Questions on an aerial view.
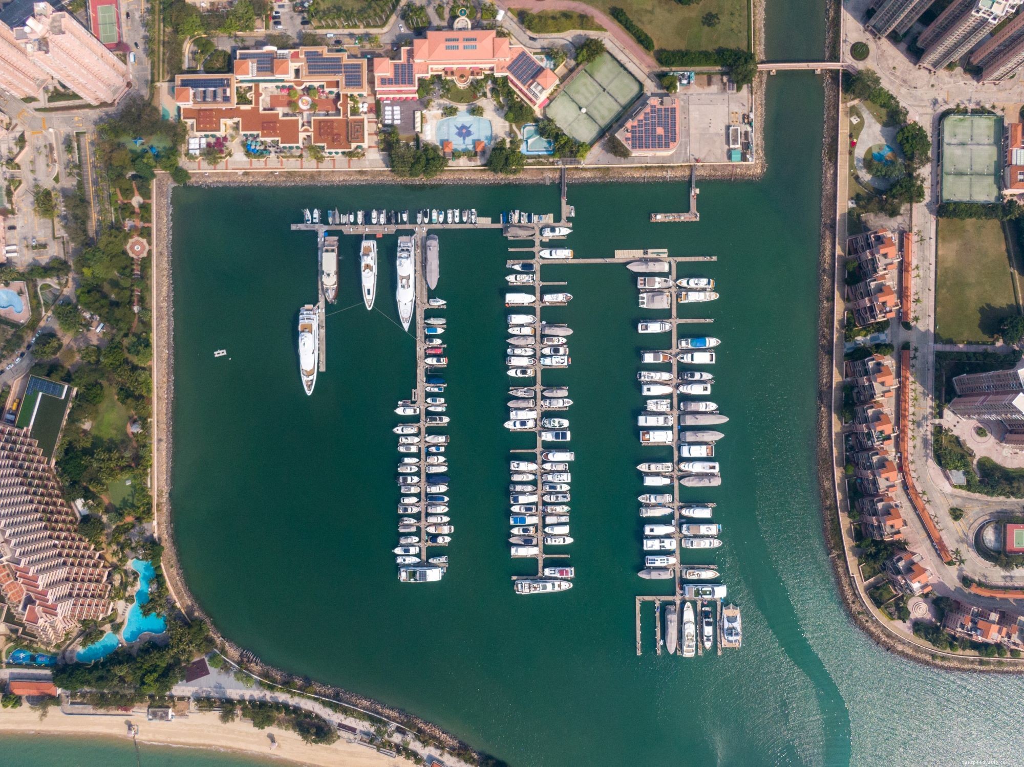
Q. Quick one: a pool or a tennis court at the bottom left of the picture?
pool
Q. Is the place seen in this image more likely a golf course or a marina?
marina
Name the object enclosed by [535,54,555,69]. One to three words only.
swimming pool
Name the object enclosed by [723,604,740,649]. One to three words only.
boat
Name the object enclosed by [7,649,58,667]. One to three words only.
swimming pool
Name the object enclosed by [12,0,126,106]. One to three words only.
building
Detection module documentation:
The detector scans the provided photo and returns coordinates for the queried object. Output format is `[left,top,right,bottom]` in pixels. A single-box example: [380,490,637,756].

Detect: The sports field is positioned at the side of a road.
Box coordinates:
[935,215,1017,342]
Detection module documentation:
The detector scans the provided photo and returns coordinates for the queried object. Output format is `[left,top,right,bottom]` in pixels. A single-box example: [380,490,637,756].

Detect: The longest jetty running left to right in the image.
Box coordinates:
[291,197,572,234]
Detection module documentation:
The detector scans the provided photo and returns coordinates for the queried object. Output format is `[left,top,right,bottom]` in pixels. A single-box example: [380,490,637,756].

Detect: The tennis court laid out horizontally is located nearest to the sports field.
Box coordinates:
[942,174,1003,201]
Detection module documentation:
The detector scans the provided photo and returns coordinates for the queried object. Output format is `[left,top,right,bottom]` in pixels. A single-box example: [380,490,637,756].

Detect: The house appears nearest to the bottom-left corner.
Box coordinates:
[9,679,60,697]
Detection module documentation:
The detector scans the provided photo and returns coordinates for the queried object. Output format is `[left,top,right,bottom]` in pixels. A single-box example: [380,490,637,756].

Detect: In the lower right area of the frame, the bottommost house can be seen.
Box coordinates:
[949,608,1024,653]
